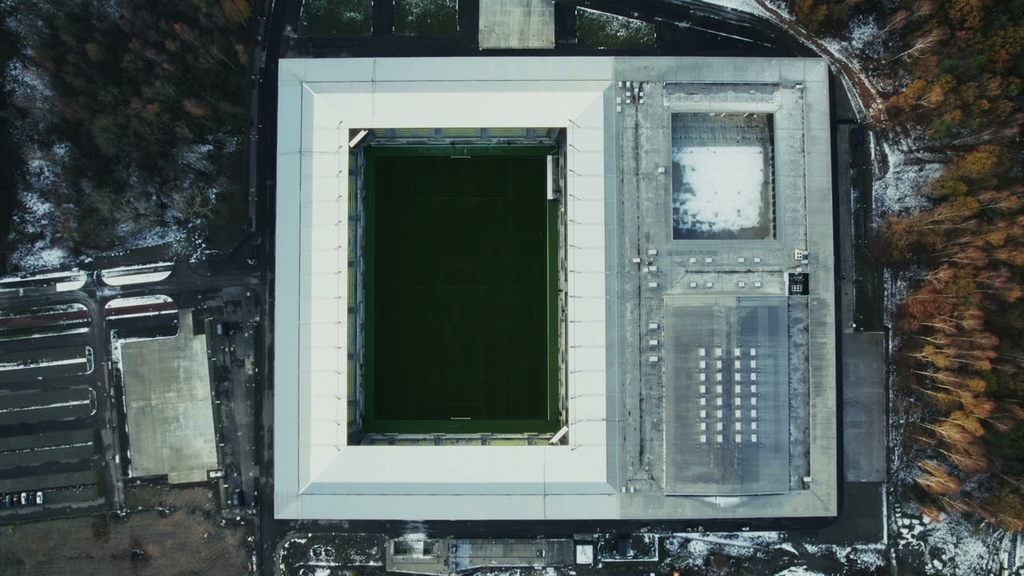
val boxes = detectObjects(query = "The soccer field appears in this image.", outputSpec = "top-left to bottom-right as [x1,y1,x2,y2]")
[365,145,560,433]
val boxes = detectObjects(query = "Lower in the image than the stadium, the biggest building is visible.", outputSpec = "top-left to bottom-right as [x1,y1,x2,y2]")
[387,536,574,575]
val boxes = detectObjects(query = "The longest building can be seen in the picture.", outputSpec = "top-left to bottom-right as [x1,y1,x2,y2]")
[612,56,837,518]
